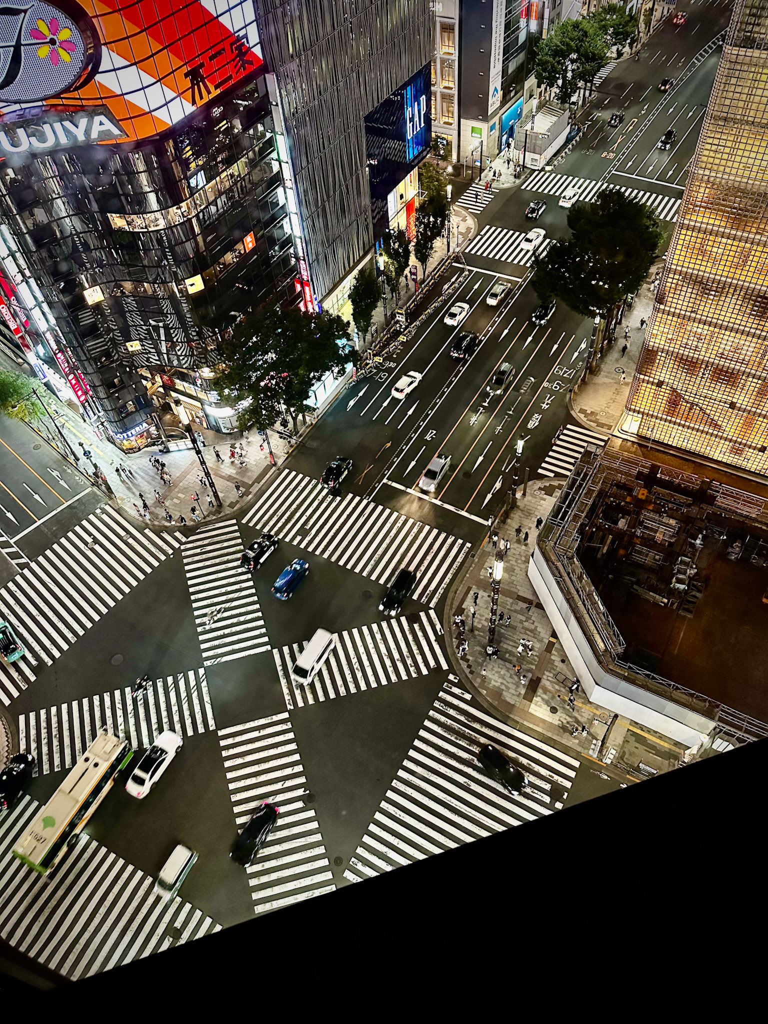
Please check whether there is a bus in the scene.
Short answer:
Yes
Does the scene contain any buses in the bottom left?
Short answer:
Yes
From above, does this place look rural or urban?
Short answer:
urban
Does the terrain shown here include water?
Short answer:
No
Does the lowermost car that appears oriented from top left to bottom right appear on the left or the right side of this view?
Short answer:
right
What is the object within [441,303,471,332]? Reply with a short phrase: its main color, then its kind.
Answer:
white car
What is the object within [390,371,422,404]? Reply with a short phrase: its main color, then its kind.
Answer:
white car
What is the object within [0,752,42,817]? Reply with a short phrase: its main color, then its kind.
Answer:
black car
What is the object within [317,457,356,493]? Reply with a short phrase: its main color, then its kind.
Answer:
black car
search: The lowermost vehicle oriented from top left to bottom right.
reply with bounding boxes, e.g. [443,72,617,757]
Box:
[473,736,532,801]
